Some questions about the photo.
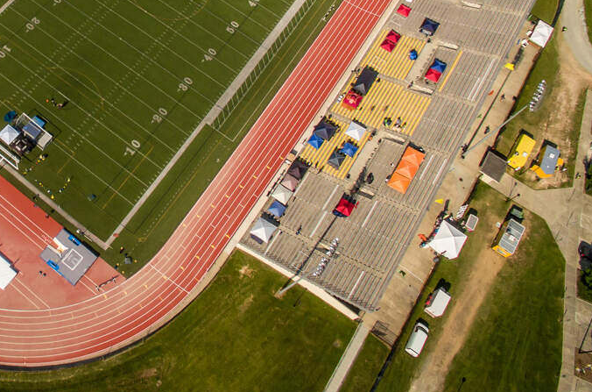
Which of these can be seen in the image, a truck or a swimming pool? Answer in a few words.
truck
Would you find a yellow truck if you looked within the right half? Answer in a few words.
Yes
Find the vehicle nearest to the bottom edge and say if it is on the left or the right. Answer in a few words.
right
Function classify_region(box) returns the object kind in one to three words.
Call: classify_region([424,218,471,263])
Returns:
tent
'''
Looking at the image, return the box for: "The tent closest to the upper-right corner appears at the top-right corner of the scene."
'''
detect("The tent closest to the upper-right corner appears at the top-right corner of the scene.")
[522,23,554,48]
